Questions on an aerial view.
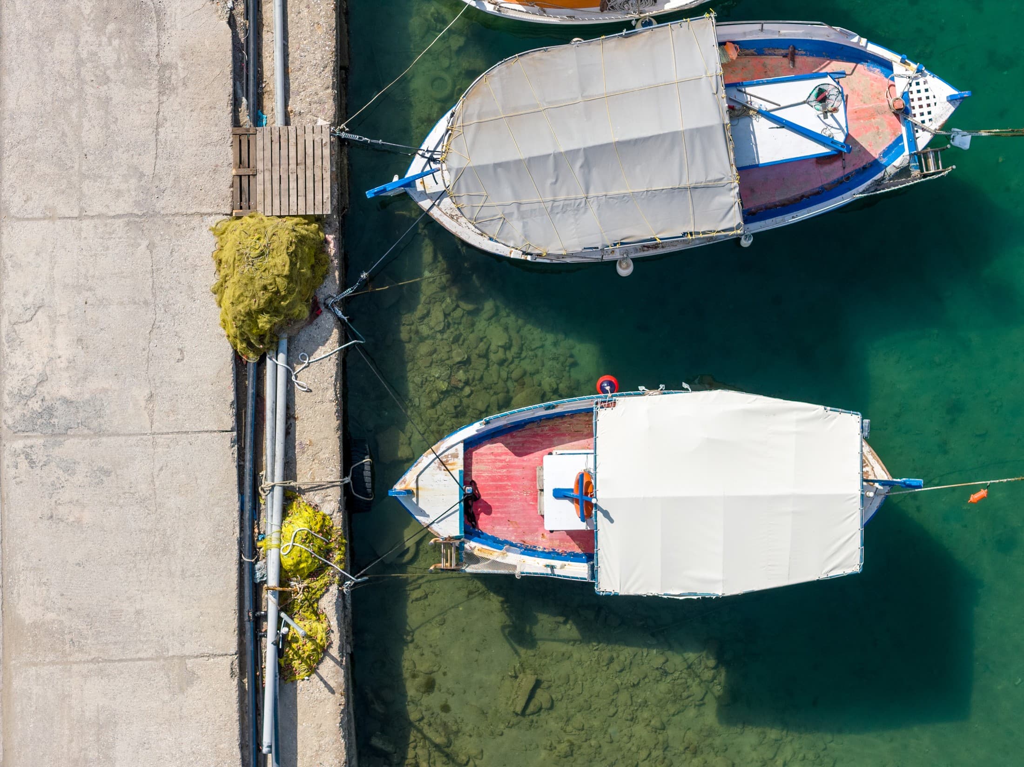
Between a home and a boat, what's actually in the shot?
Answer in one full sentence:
Of the two, only a boat appears.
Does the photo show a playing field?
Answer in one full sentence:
No, I find no playing field anywhere in the image.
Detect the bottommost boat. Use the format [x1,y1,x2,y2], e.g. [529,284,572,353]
[386,389,922,600]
